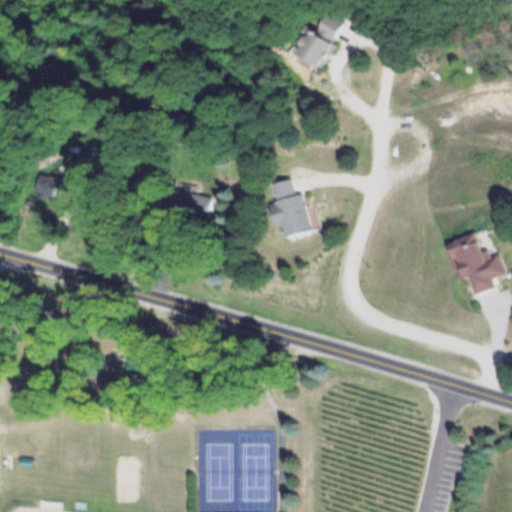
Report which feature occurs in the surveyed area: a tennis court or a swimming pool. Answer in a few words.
tennis court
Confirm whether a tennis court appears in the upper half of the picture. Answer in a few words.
No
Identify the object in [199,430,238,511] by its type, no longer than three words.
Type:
tennis court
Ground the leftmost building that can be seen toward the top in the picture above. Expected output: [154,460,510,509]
[37,175,59,200]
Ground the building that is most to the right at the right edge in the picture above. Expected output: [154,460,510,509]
[447,238,512,294]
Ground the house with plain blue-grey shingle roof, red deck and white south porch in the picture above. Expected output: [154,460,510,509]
[271,182,318,244]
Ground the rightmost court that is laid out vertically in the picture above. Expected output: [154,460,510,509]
[238,430,276,511]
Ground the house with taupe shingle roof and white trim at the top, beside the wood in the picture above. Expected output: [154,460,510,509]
[294,14,346,72]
